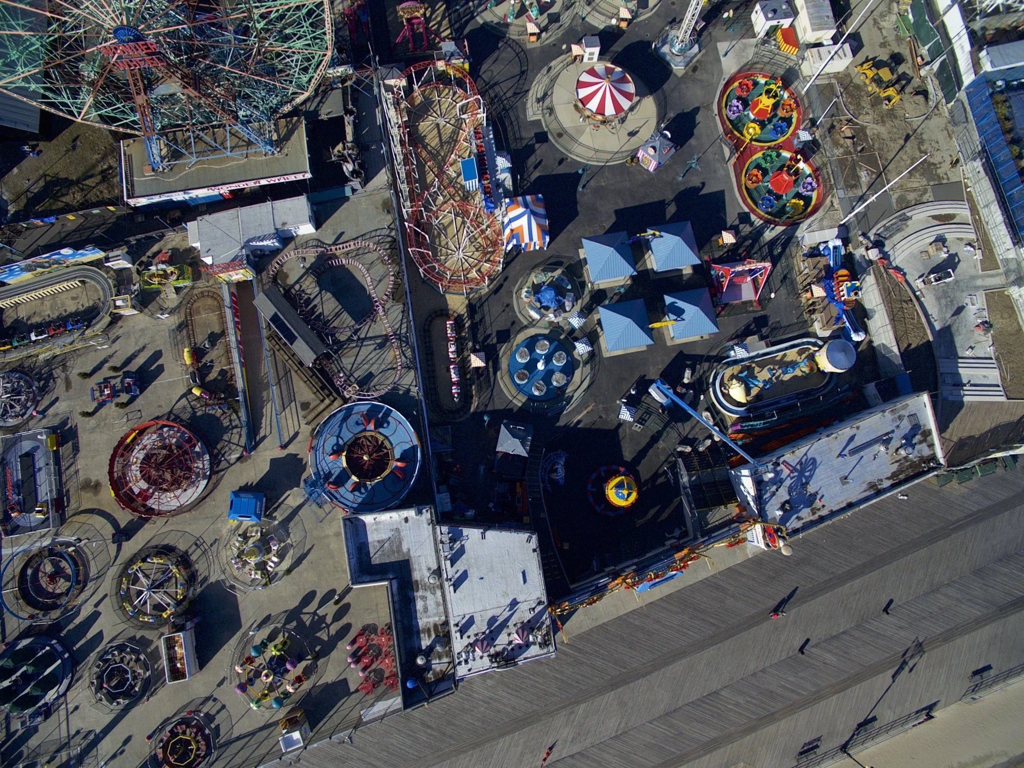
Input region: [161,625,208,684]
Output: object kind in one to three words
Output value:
trailer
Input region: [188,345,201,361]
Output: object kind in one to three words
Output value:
rail car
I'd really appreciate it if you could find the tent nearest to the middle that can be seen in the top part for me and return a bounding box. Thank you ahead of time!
[504,194,549,255]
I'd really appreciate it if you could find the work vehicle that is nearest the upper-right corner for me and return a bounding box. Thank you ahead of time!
[852,60,902,110]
